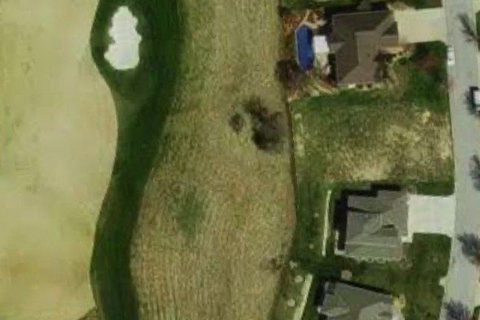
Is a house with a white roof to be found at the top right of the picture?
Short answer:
No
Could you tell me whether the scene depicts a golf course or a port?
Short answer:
golf course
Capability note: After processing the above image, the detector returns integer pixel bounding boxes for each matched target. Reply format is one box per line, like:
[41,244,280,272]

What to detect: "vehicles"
[446,46,455,66]
[473,90,480,113]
